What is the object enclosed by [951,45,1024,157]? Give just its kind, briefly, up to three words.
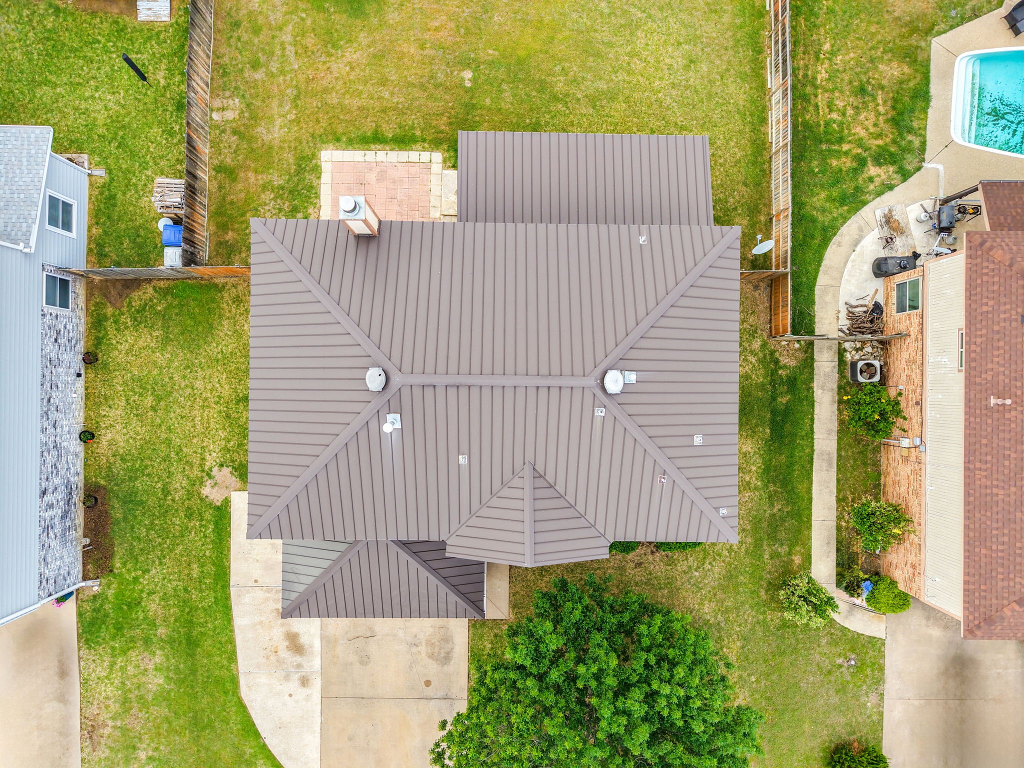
swimming pool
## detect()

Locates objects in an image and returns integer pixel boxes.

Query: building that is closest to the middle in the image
[247,130,742,620]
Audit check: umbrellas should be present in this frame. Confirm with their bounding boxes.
[121,51,153,87]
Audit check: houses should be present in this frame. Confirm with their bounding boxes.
[247,130,742,620]
[0,124,94,626]
[880,178,1024,640]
